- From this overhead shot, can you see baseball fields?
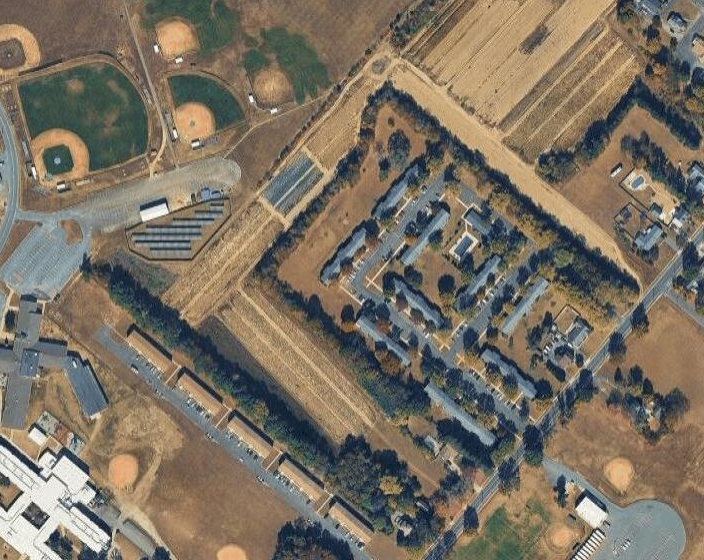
Yes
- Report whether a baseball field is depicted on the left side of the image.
Yes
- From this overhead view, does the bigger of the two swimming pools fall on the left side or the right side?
right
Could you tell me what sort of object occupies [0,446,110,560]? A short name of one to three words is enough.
building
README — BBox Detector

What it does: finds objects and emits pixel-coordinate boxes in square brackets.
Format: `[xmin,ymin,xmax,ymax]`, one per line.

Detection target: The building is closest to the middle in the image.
[316,225,369,284]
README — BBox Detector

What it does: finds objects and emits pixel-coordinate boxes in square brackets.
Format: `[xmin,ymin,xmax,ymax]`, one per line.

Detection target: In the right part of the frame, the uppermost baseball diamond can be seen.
[606,459,633,497]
